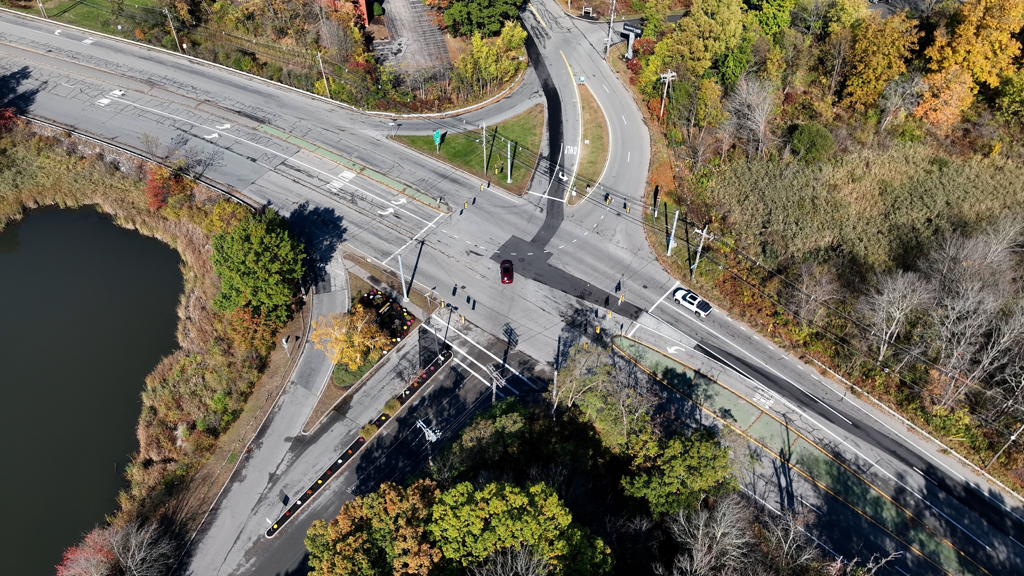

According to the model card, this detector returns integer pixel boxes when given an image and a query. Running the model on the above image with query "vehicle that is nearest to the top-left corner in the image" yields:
[500,262,514,284]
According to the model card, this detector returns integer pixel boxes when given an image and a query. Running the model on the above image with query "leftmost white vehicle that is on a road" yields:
[674,291,713,319]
